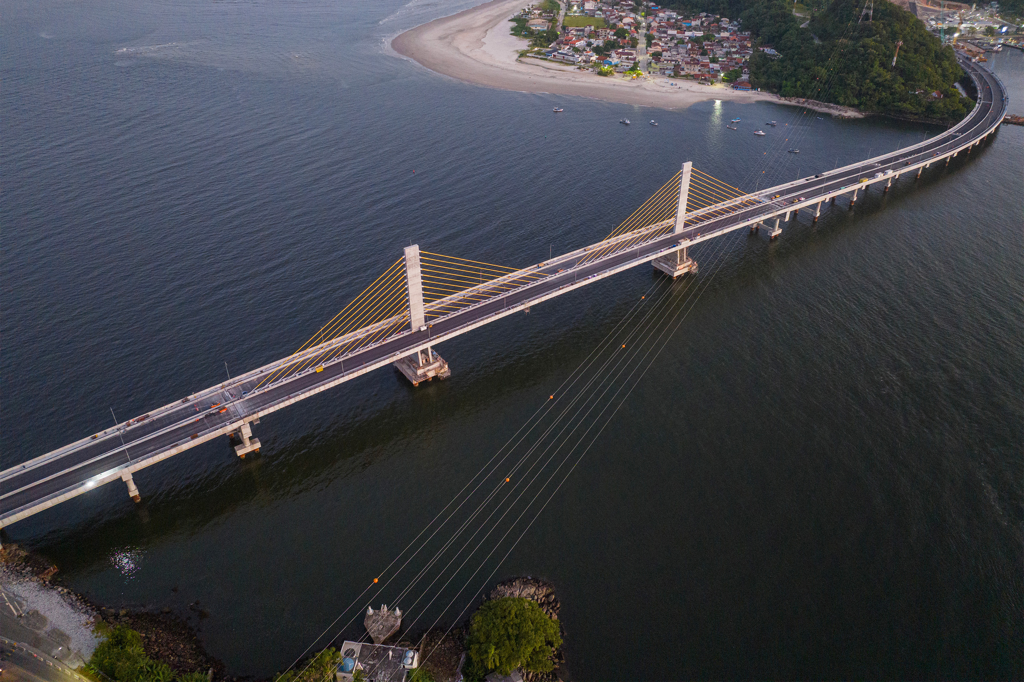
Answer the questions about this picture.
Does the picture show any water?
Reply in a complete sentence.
Yes, there is water in the image.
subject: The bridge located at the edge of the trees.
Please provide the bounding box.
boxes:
[0,66,1008,552]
